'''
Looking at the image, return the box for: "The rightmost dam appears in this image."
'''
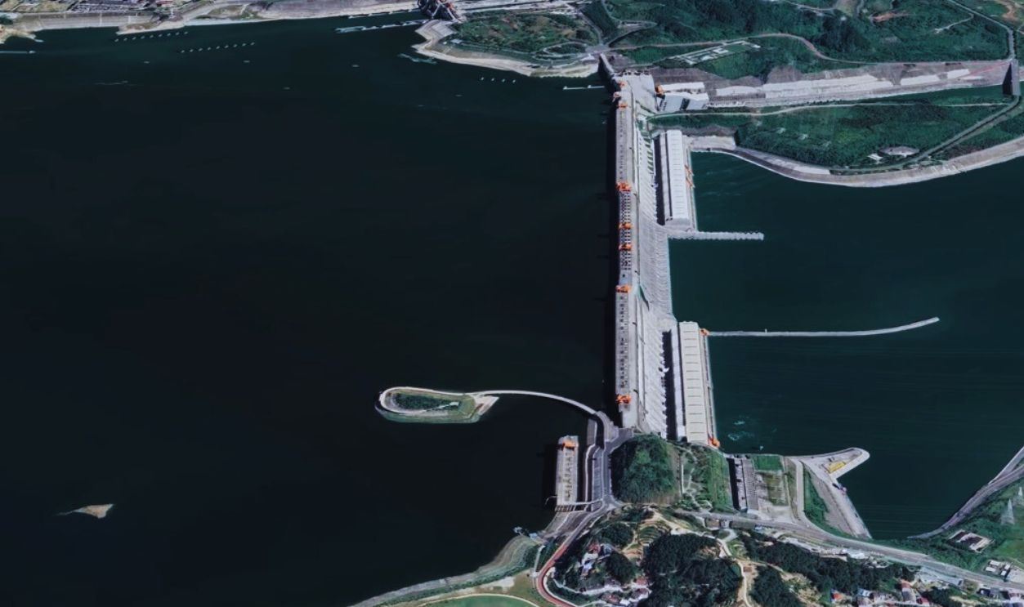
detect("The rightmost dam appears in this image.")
[614,73,698,449]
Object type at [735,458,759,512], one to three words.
building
